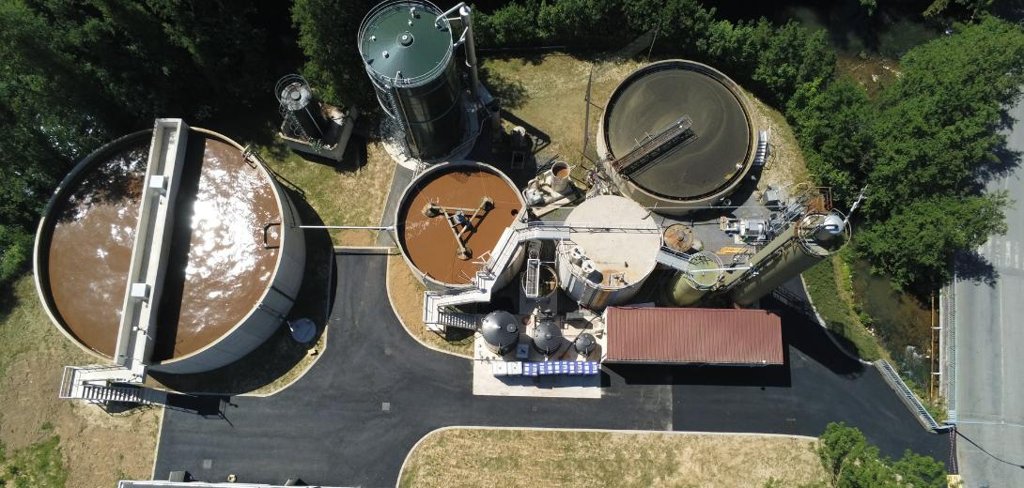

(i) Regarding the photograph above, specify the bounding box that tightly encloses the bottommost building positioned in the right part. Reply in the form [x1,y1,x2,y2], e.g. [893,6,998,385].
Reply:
[600,306,783,367]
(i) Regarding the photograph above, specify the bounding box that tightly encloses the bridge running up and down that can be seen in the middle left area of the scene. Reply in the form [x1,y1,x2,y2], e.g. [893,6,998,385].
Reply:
[114,118,196,383]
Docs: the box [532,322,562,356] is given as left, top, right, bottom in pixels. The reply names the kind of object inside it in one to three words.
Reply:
storage tank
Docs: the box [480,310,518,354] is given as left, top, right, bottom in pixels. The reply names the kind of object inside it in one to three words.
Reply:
storage tank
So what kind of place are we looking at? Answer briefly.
industrial area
